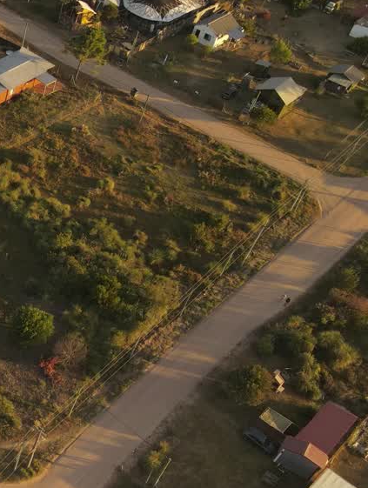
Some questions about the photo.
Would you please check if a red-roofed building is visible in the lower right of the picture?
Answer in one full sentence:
Yes, there is a red-roofed building in the lower right of the picture.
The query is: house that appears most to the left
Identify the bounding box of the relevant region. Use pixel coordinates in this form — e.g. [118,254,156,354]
[0,49,70,113]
